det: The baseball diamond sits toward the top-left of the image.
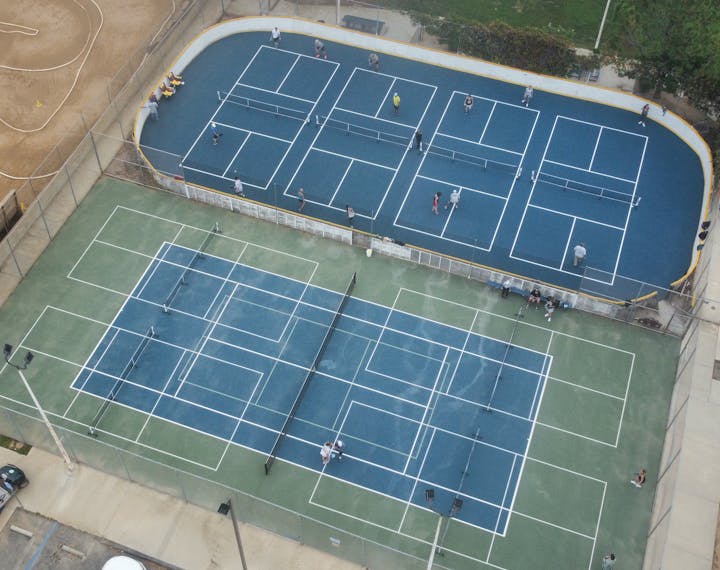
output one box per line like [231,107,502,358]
[0,0,207,263]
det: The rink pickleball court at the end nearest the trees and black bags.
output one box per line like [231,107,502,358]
[509,115,648,285]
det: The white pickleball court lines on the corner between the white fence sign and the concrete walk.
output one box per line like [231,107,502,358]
[310,401,606,570]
